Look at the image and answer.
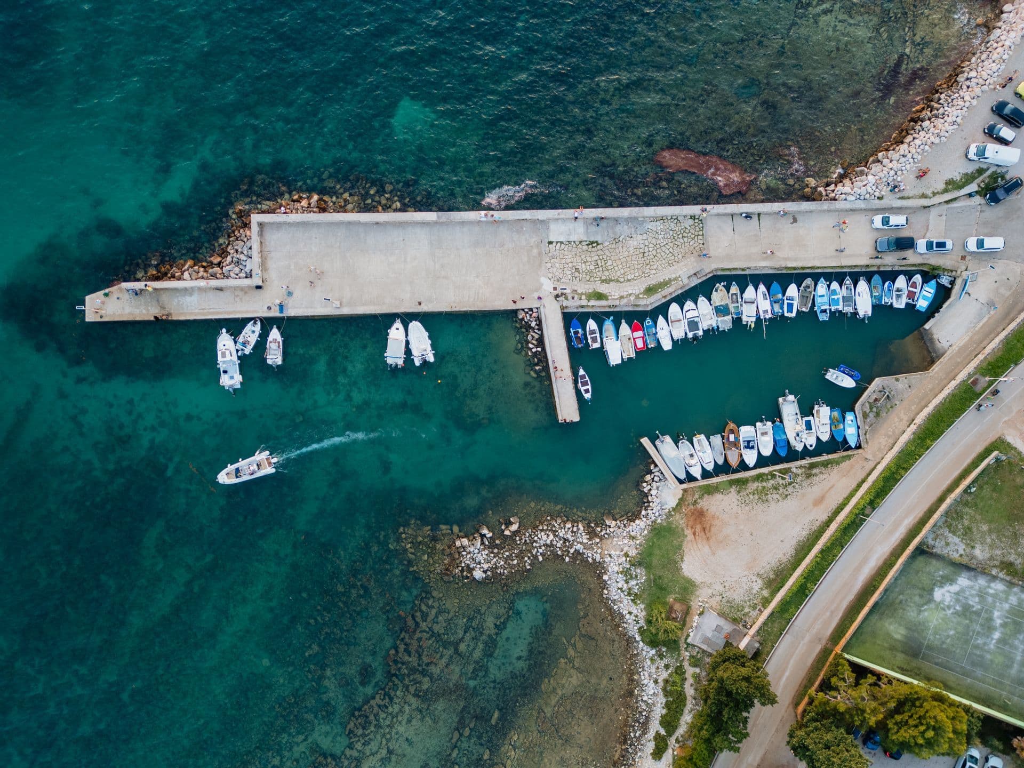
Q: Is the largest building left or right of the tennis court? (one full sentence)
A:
Looking at the photo, the largest building lies to the left of the tennis court.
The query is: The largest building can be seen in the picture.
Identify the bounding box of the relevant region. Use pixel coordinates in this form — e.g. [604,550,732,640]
[686,602,757,654]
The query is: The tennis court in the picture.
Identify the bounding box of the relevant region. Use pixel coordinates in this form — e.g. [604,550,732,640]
[840,543,1024,726]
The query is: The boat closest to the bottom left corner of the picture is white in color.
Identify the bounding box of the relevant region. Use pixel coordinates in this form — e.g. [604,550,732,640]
[217,451,280,485]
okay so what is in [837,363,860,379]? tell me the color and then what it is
blue boat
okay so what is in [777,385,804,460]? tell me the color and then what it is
white boat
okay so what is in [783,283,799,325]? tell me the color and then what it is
white boat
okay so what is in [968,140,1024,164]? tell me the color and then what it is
white vehicle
